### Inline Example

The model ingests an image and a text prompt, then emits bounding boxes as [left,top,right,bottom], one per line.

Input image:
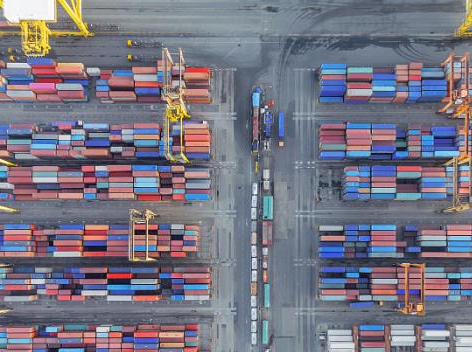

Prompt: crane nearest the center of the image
[163,98,194,168]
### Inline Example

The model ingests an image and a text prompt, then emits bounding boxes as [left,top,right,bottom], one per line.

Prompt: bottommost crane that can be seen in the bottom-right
[388,262,425,321]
